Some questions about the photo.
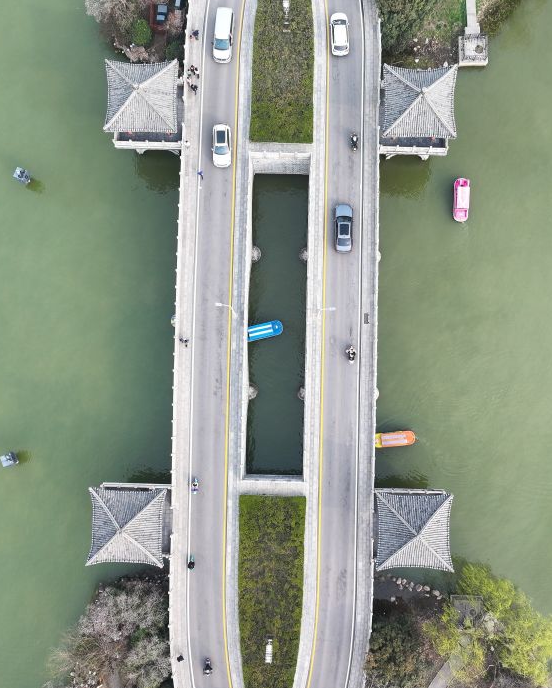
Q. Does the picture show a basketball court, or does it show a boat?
boat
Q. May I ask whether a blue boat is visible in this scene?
Yes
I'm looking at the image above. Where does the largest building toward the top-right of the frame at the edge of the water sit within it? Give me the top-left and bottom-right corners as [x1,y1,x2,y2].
[380,63,457,153]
